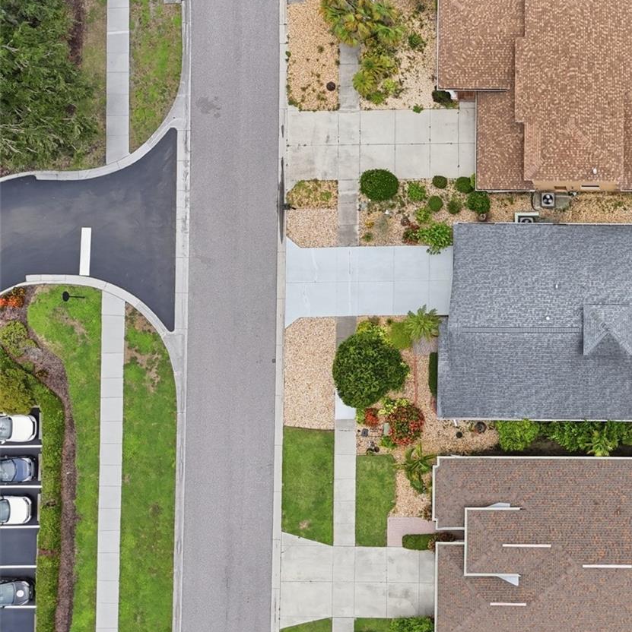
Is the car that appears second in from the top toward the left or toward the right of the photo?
left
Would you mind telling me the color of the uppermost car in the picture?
white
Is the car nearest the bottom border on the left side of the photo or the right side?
left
